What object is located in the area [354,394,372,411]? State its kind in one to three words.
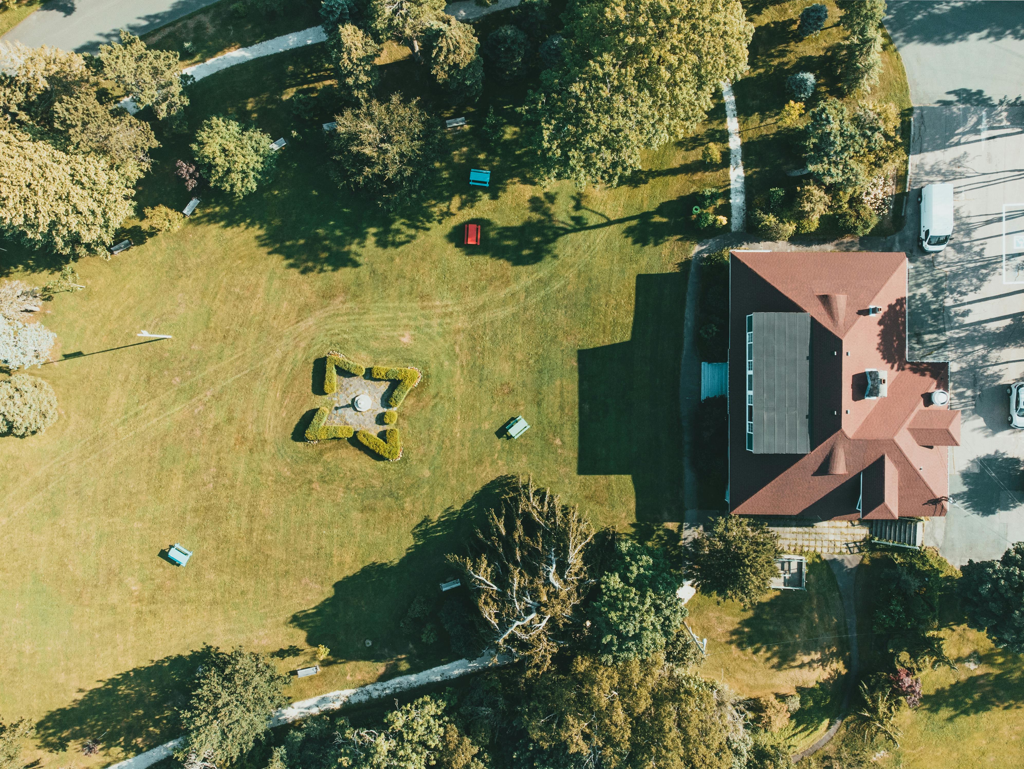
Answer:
fountain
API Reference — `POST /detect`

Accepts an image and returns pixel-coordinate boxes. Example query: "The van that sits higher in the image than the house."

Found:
[917,180,956,256]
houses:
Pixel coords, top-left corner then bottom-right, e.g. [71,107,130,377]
[721,251,961,518]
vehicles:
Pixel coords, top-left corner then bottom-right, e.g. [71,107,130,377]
[1006,383,1024,428]
[917,180,956,256]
